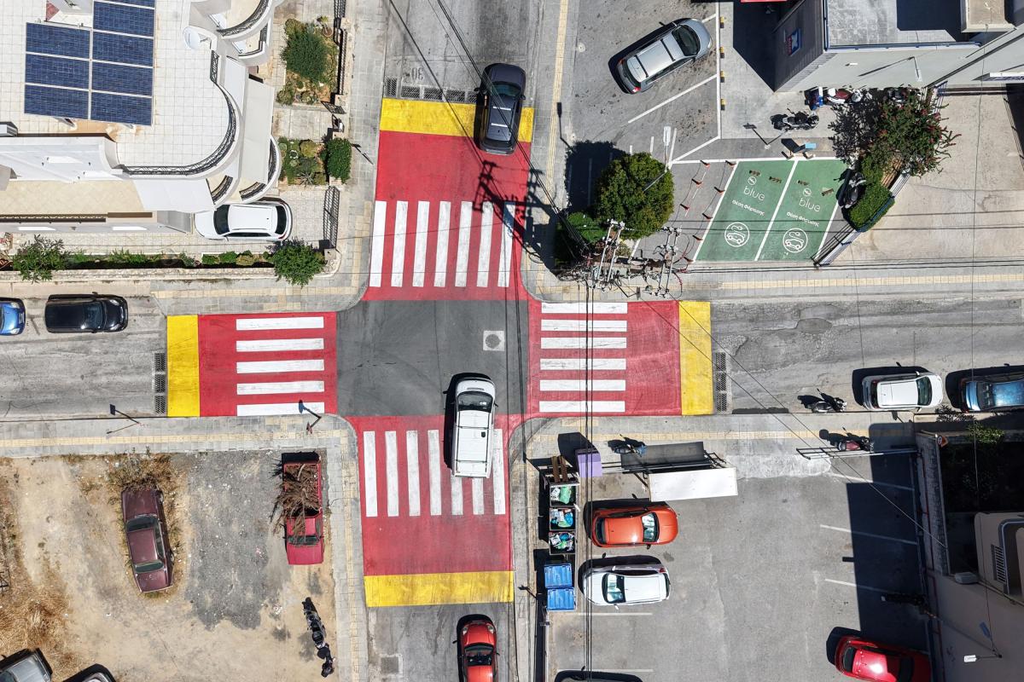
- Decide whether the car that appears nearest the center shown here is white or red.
white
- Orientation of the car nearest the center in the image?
vertically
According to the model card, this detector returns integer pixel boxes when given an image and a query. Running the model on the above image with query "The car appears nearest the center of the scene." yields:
[449,376,500,479]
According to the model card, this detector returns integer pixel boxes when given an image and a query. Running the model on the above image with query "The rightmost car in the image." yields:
[955,373,1024,412]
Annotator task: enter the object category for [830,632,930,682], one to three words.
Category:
car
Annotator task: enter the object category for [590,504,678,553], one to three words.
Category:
car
